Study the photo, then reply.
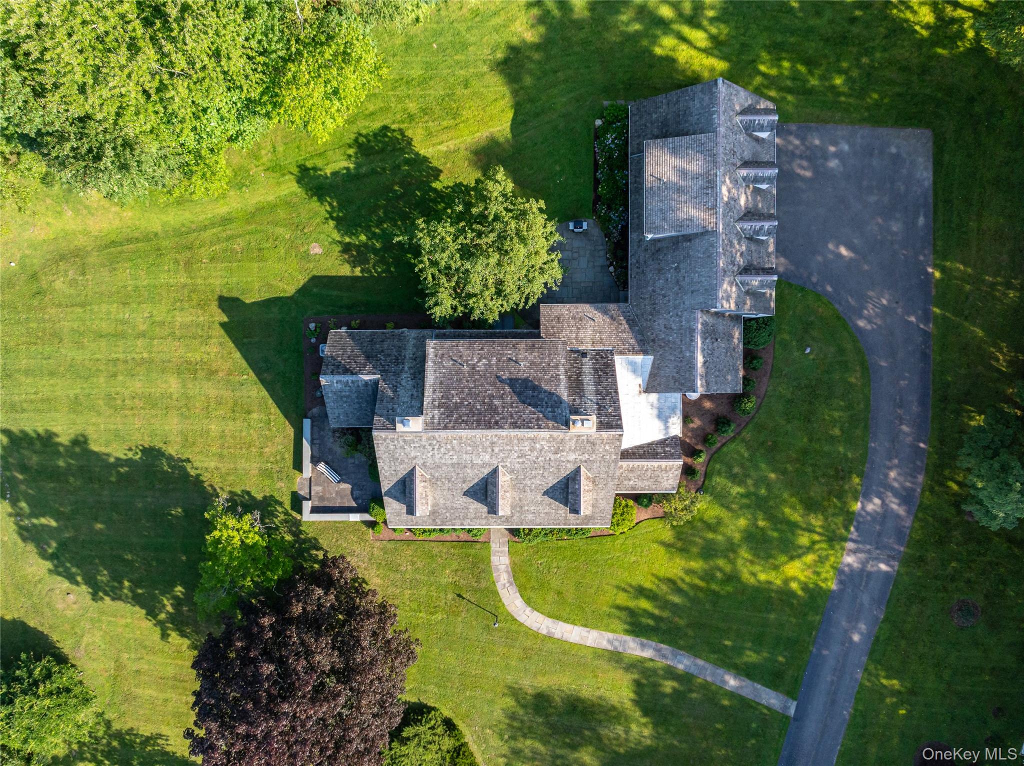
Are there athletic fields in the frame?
No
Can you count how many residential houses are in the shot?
1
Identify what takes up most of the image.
grass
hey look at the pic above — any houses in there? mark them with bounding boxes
[320,78,778,530]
